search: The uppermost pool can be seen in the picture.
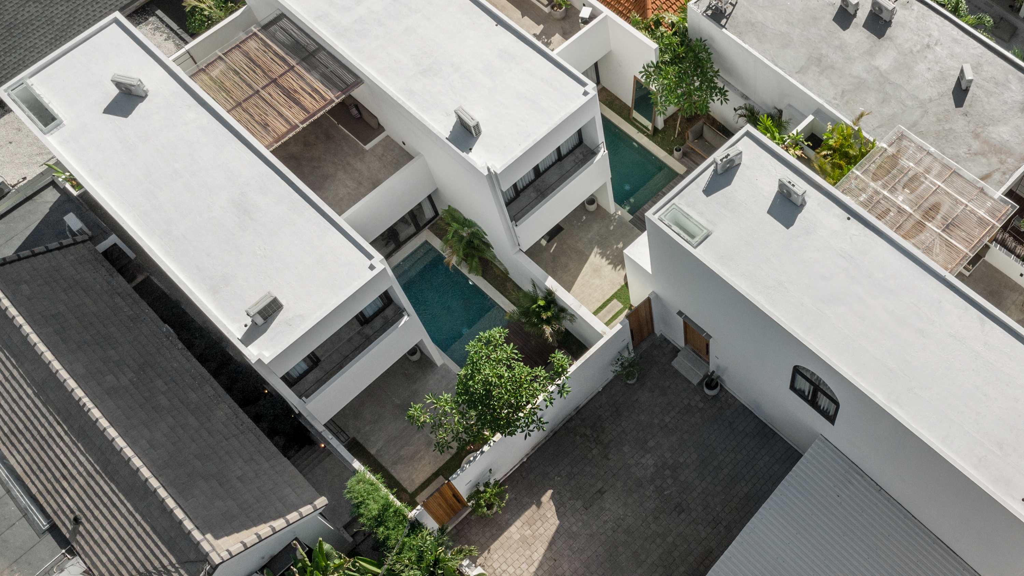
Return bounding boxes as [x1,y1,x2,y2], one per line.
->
[599,103,688,221]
